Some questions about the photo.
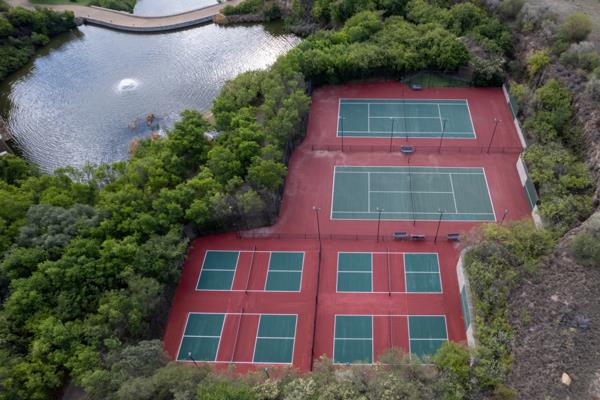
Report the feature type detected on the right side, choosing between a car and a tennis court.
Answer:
tennis court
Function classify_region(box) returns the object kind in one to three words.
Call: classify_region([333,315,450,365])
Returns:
sports court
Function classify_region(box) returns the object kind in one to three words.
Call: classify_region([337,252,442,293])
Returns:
sports court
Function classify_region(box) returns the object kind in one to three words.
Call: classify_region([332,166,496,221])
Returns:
tennis court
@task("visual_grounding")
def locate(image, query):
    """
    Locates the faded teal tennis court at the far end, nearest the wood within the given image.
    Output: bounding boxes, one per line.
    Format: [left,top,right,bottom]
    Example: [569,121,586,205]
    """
[337,99,476,138]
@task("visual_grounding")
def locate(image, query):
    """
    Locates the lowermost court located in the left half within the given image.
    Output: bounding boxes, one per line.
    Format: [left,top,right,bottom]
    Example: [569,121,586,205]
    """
[176,313,297,363]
